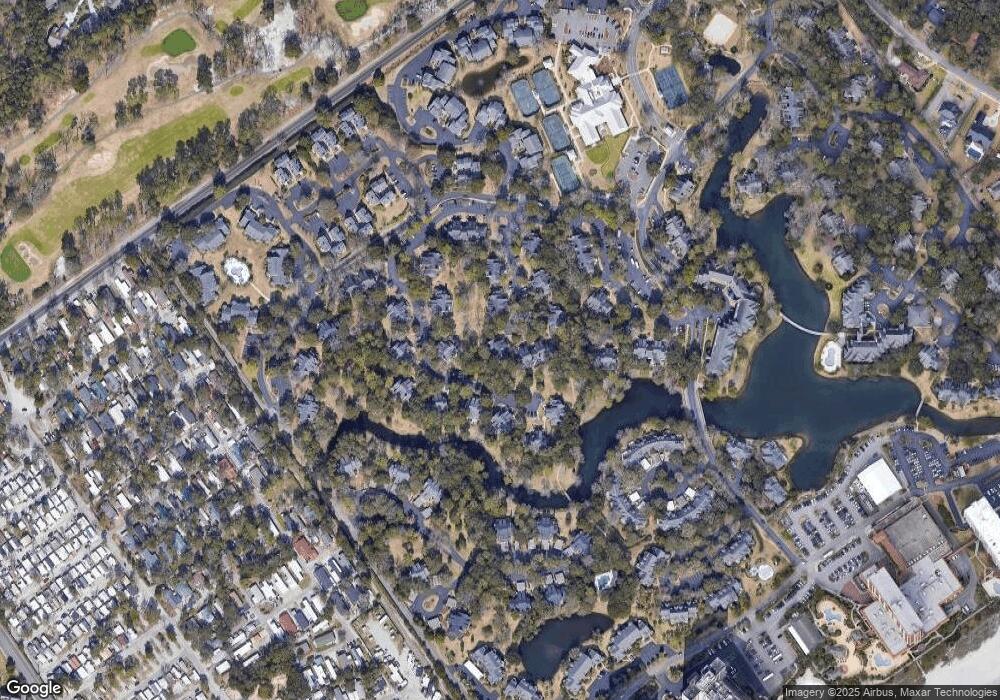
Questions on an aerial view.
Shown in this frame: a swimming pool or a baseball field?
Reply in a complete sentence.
Of the two, only a swimming pool appears.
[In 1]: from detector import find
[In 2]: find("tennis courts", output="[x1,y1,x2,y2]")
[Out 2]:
[654,65,688,107]
[552,154,580,190]
[511,77,539,116]
[542,112,571,149]
[531,67,562,105]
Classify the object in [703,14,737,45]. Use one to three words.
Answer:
sports court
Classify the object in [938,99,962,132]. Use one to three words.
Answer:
house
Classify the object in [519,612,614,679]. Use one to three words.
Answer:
pond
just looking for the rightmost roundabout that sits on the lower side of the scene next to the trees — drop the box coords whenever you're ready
[640,464,689,499]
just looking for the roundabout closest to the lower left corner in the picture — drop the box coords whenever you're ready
[412,585,450,618]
